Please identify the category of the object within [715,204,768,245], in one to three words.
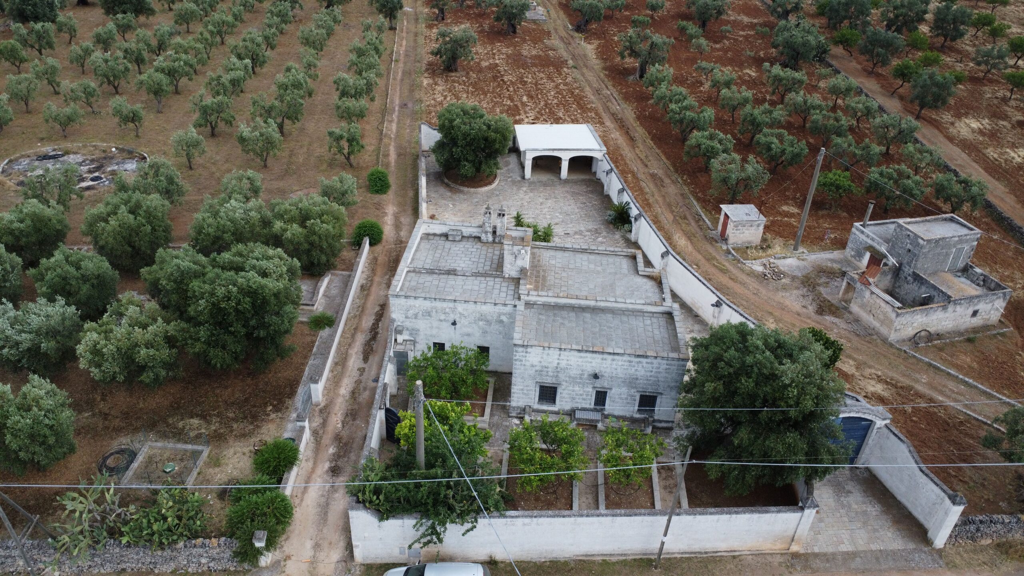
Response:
shed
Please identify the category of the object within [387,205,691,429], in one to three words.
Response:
house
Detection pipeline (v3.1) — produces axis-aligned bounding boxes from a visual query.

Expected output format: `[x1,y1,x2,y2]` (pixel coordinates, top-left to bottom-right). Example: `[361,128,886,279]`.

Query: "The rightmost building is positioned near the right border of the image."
[834,204,1015,344]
